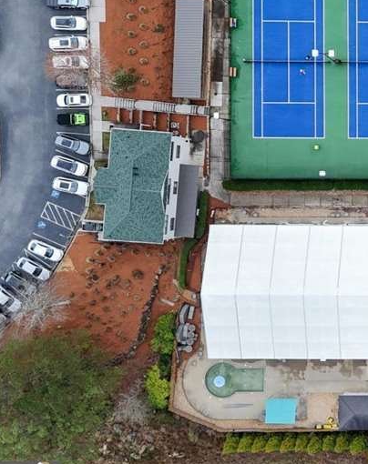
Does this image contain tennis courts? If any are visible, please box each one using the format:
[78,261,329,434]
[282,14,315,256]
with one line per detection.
[336,0,368,179]
[230,0,336,179]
